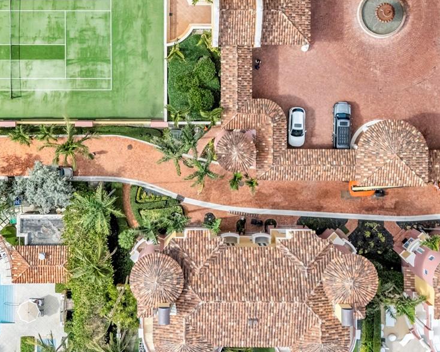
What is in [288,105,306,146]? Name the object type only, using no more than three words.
car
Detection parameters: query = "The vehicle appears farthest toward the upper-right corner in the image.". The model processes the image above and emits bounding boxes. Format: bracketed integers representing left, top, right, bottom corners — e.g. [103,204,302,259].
[332,101,352,148]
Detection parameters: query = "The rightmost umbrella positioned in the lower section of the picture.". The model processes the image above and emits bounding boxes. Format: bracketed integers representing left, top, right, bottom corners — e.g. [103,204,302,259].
[17,298,41,323]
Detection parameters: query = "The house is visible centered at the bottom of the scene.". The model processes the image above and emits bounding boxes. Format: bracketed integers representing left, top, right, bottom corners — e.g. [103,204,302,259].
[128,219,375,352]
